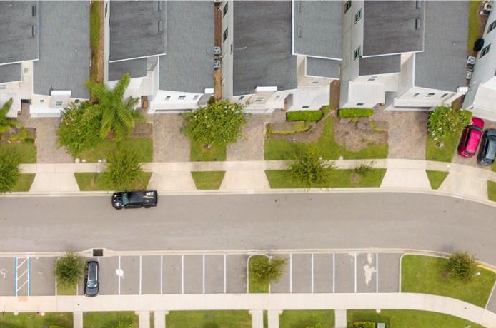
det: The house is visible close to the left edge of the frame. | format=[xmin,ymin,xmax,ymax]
[0,0,89,124]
